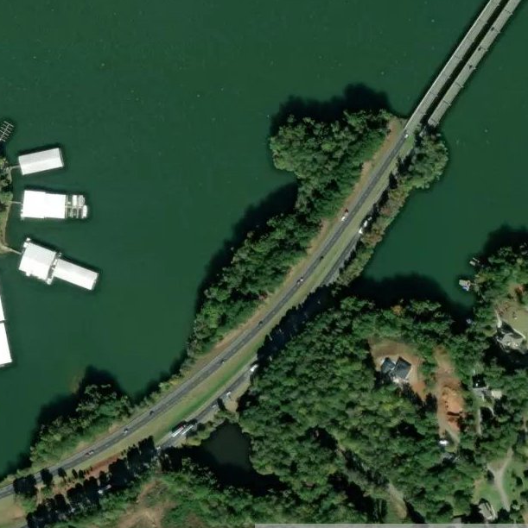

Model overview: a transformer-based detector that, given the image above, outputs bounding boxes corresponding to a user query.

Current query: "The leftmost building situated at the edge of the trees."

[379,359,412,380]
